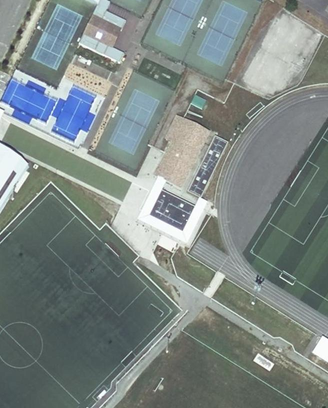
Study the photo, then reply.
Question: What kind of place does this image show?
sports ground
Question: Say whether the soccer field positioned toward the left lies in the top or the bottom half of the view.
bottom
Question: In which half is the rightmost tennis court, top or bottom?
top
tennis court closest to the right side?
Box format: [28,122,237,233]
[182,0,262,81]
